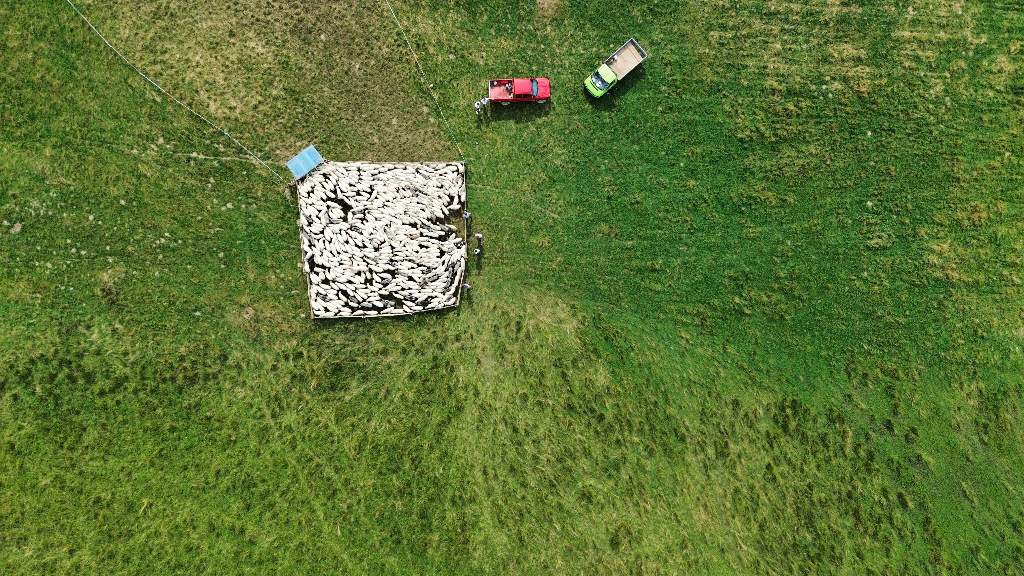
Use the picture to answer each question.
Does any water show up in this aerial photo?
No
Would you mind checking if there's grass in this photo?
Yes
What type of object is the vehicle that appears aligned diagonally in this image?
truck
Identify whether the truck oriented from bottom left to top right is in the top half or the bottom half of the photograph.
top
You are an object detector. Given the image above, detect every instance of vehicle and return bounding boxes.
[487,78,551,106]
[583,38,648,101]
